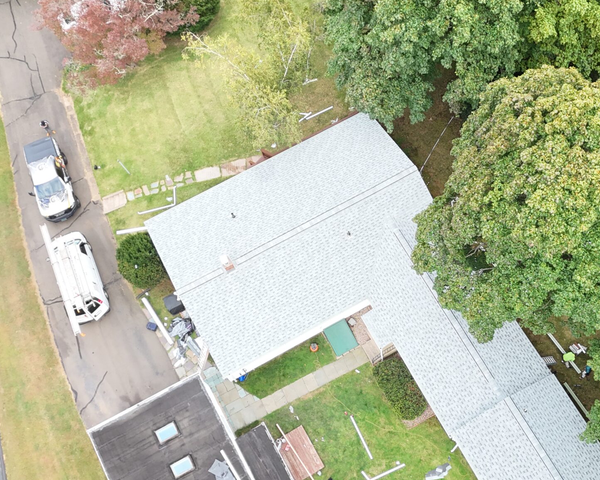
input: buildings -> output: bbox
[144,110,600,480]
[85,373,252,480]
